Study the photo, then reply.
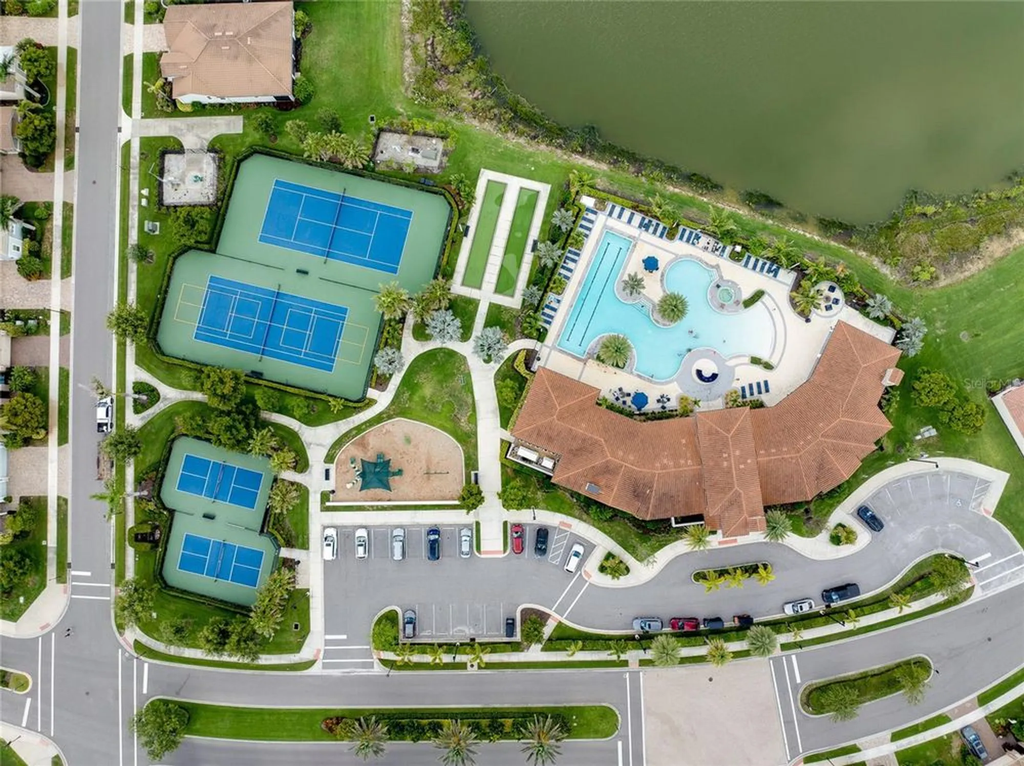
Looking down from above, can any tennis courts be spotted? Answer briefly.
Yes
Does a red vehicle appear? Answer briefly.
Yes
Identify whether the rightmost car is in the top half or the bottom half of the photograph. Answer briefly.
bottom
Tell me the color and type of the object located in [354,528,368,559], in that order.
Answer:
white car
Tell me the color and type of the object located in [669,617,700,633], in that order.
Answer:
red car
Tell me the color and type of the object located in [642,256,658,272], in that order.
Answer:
blue umbrella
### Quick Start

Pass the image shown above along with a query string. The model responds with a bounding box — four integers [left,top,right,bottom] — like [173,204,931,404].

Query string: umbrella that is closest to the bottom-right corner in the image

[631,393,647,409]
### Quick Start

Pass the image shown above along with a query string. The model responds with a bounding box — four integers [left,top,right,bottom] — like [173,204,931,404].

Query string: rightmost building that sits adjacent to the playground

[512,319,909,542]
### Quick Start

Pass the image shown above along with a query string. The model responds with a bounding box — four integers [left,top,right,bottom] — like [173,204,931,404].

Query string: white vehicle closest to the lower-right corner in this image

[782,599,815,616]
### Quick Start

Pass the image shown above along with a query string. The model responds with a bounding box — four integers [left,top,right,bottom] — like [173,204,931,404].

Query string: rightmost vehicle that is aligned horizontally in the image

[821,584,860,603]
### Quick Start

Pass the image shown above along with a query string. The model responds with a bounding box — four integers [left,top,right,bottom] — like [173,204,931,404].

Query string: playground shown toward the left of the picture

[328,417,466,504]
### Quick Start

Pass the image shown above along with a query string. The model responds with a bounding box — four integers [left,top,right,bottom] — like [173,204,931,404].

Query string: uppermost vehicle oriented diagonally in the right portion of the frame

[857,504,884,533]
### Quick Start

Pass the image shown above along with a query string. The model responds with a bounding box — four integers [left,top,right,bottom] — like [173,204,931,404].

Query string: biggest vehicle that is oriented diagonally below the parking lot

[959,725,990,761]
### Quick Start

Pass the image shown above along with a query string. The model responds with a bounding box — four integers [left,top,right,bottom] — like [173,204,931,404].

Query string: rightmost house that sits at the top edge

[160,0,297,104]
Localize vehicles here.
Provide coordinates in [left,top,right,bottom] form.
[734,615,756,628]
[391,528,405,560]
[354,528,368,559]
[857,504,884,533]
[959,725,990,761]
[459,527,472,557]
[821,584,860,603]
[782,599,815,616]
[704,617,725,631]
[322,527,338,560]
[669,617,700,633]
[426,527,441,561]
[404,608,416,639]
[97,397,114,432]
[511,524,524,554]
[506,616,515,637]
[565,542,583,575]
[632,617,663,633]
[535,527,548,558]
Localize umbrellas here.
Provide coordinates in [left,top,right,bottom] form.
[631,393,647,409]
[642,256,658,272]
